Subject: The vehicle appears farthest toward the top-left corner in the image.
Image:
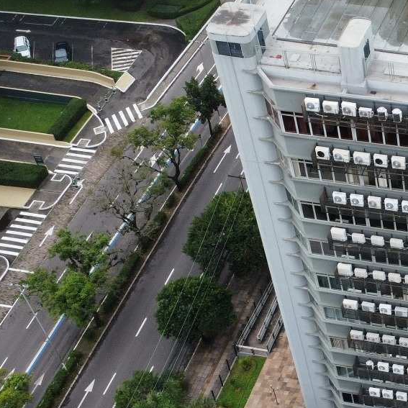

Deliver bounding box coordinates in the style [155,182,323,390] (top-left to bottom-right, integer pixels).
[9,35,37,55]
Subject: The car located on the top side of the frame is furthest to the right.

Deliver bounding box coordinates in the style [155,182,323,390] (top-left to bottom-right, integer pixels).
[49,39,78,62]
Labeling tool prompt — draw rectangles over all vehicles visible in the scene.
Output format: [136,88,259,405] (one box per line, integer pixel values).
[9,35,37,55]
[49,39,78,62]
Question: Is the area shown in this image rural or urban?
urban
